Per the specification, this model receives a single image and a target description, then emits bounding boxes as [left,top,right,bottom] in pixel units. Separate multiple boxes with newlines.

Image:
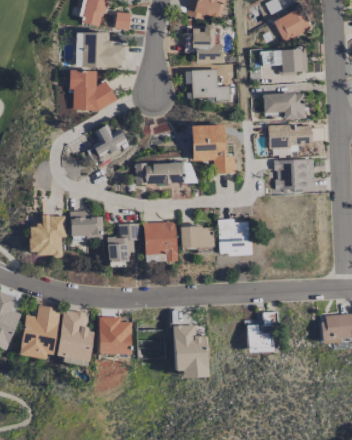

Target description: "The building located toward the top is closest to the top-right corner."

[276,9,310,40]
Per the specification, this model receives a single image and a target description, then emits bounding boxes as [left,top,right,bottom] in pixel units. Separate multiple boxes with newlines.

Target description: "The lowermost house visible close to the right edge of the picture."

[322,314,352,348]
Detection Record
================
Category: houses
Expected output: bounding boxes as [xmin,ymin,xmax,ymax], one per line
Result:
[136,162,186,184]
[173,322,210,378]
[189,0,225,18]
[261,47,308,74]
[144,222,178,262]
[30,215,65,258]
[108,224,139,268]
[116,12,130,30]
[268,124,313,157]
[98,317,132,356]
[0,288,23,346]
[244,319,274,352]
[70,210,104,244]
[70,70,117,111]
[274,160,314,191]
[186,70,230,101]
[218,220,252,256]
[76,32,126,69]
[264,93,305,118]
[322,314,352,348]
[58,308,92,367]
[193,25,222,63]
[20,306,61,360]
[181,226,215,254]
[192,125,236,174]
[276,9,310,40]
[96,124,132,156]
[78,0,108,26]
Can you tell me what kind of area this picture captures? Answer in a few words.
residential area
